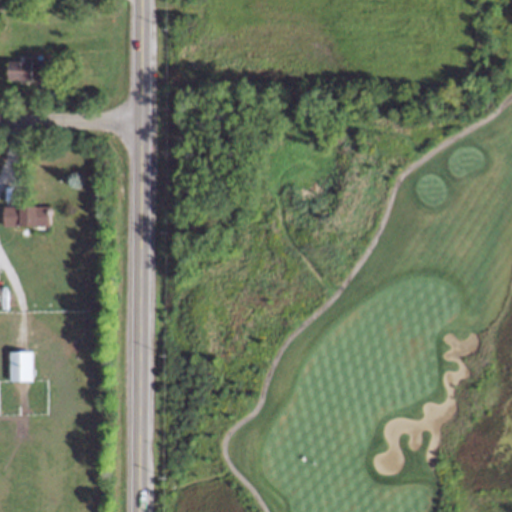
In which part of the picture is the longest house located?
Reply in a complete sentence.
The longest house is located in the left region of the scene.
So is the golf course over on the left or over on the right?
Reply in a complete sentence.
You can find the golf course on the right side of the picture.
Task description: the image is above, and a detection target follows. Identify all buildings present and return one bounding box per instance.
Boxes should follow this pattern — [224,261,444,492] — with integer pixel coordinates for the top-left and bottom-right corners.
[10,351,34,382]
[6,62,32,85]
[2,206,52,230]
